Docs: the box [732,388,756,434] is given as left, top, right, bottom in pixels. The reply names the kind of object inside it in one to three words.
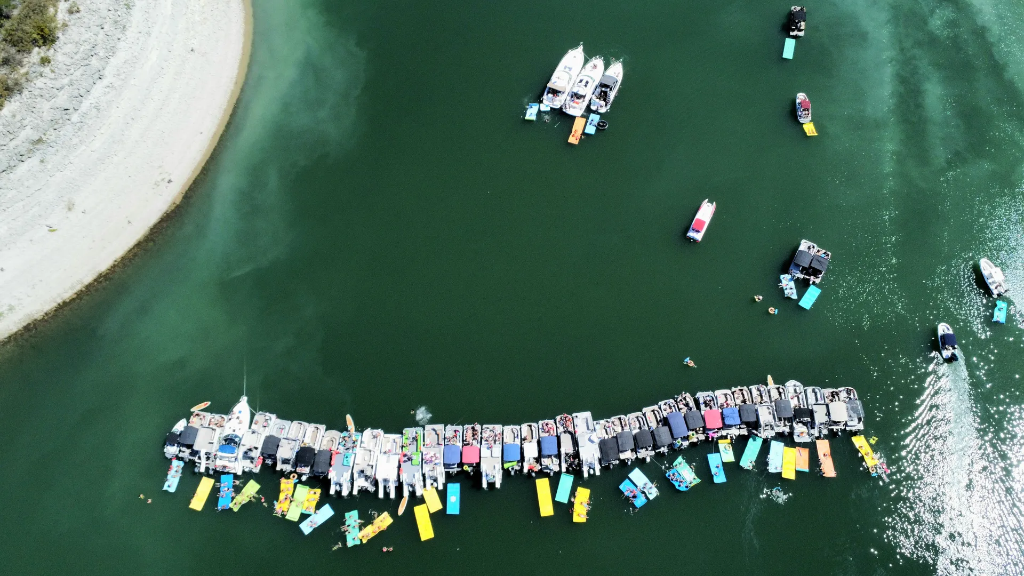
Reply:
boat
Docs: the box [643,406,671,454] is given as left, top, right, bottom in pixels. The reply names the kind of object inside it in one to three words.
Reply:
boat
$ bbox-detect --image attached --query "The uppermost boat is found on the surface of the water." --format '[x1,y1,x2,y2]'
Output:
[789,5,808,38]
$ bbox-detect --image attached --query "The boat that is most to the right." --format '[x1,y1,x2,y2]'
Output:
[979,258,1006,301]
